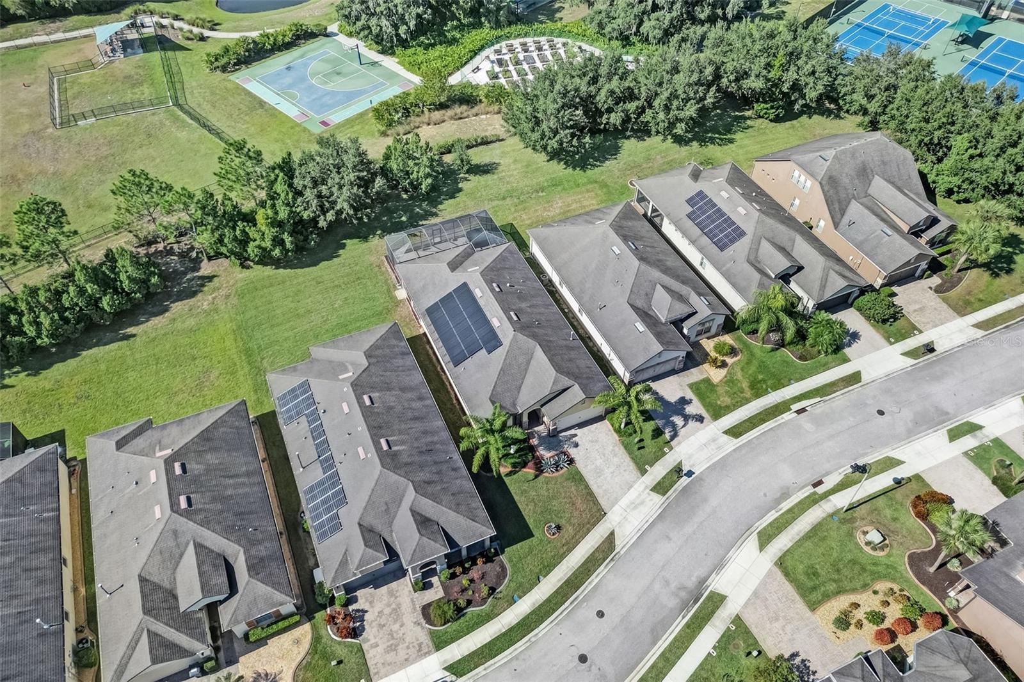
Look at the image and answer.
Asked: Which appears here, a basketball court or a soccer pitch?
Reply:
basketball court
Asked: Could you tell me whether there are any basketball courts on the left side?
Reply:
Yes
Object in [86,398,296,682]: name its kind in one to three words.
house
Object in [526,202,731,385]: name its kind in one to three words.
house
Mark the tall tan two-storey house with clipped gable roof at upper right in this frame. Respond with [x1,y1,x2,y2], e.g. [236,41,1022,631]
[753,131,959,289]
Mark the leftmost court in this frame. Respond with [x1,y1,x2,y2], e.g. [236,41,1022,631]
[229,35,405,133]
